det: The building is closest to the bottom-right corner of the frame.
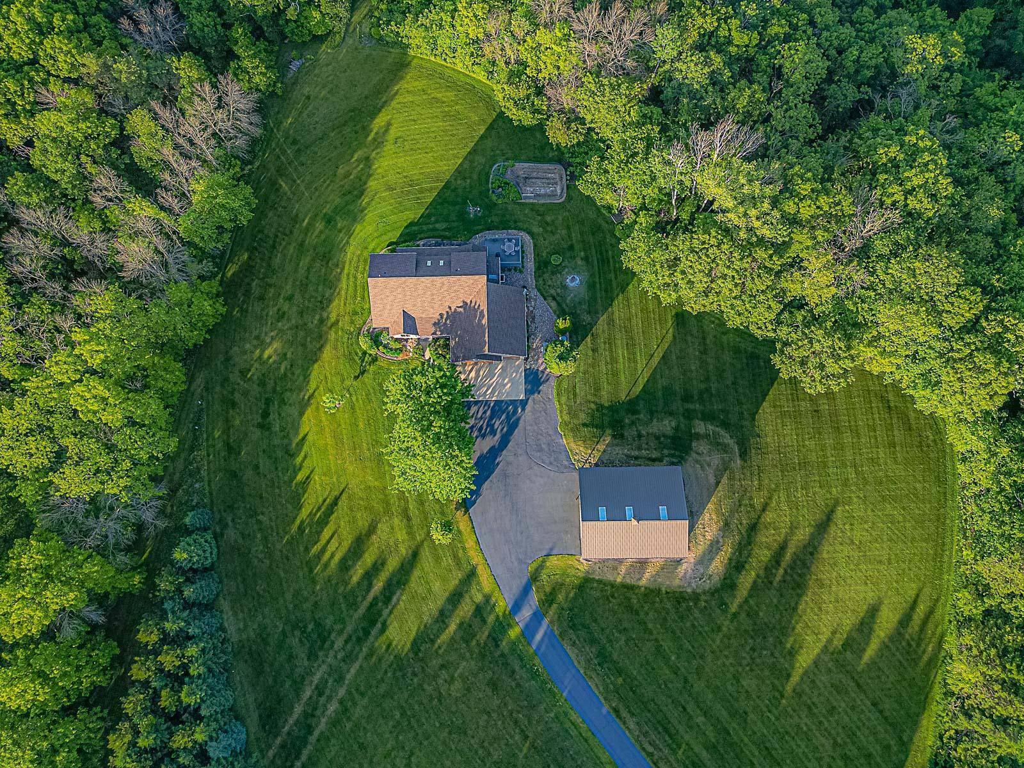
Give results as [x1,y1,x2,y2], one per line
[574,466,690,562]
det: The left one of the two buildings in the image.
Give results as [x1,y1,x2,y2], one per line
[366,240,527,365]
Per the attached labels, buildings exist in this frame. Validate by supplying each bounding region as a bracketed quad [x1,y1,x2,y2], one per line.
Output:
[574,466,690,562]
[366,240,527,365]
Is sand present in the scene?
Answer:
No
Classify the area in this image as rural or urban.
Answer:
rural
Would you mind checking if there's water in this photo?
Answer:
No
